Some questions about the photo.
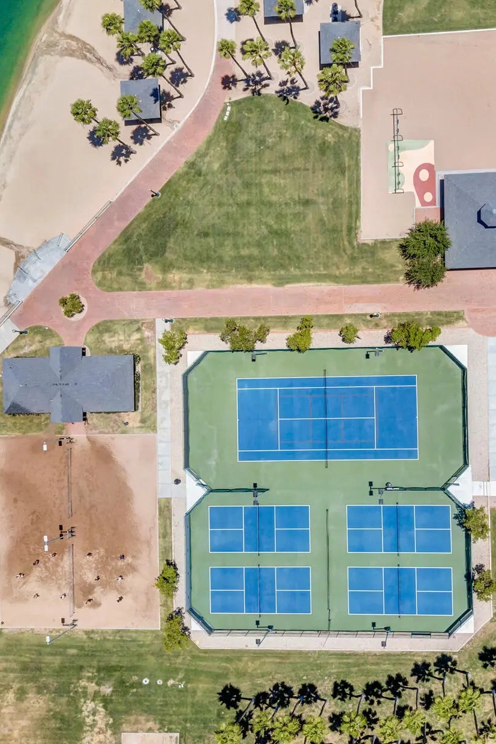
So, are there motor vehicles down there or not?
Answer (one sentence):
No, the picture doesn't show any motor vehicle.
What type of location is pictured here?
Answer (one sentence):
This image shows a sports ground.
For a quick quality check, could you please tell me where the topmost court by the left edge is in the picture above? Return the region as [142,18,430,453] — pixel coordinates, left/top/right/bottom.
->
[0,434,159,533]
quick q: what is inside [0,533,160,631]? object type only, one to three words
sports court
